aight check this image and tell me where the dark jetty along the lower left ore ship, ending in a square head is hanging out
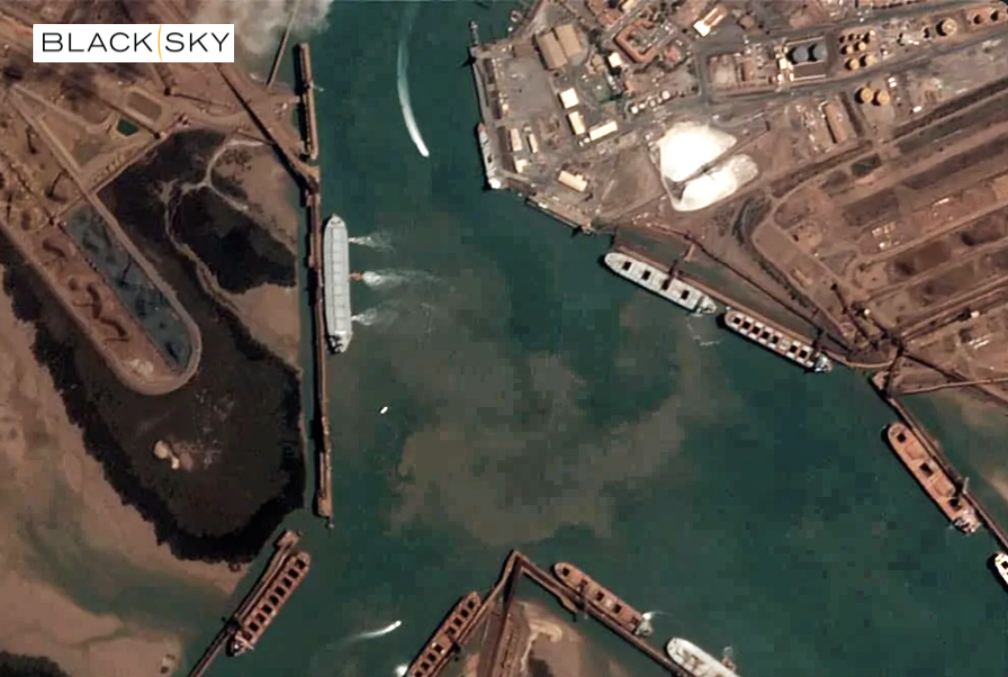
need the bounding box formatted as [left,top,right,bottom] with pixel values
[227,540,290,623]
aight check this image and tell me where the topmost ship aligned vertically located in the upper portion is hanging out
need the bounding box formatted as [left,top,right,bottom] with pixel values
[476,122,502,193]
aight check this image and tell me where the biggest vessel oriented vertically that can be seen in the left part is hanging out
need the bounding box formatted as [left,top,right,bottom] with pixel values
[323,214,351,354]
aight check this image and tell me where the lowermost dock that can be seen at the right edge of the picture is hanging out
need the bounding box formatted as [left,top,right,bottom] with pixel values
[882,390,1008,550]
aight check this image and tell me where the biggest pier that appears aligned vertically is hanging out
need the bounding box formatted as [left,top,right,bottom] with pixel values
[313,176,333,515]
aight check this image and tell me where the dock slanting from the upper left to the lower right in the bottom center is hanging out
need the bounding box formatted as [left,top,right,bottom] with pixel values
[515,550,692,677]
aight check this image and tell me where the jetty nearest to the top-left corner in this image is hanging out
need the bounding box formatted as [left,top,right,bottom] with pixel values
[300,43,318,156]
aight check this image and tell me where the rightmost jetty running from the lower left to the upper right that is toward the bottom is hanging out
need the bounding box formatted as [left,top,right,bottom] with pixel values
[431,553,515,677]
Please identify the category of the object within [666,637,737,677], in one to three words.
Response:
ship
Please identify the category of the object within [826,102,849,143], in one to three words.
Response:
building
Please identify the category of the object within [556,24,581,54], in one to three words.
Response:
building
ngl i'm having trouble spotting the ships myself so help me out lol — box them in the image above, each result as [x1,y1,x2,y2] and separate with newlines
[230,550,312,659]
[476,122,502,193]
[323,214,351,354]
[724,310,835,372]
[666,637,737,677]
[994,550,1008,585]
[891,419,980,535]
[554,563,652,638]
[402,589,479,677]
[602,250,719,314]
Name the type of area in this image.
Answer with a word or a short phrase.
port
